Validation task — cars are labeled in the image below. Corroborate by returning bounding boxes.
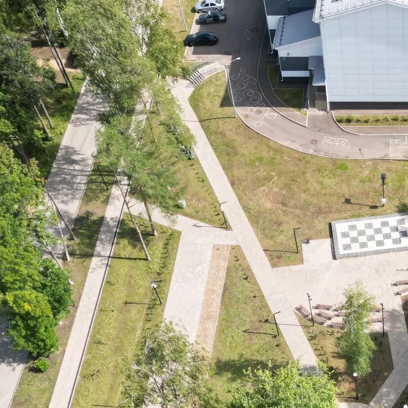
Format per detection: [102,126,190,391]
[194,0,226,14]
[183,30,220,48]
[196,9,228,25]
